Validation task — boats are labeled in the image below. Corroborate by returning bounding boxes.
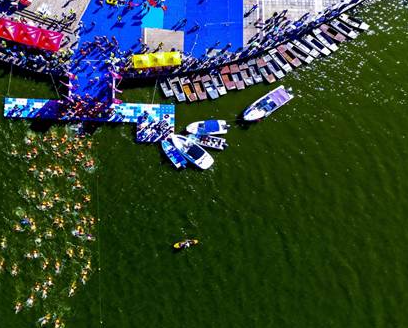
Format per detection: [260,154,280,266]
[203,74,218,98]
[192,133,228,150]
[295,35,319,58]
[222,65,236,90]
[304,32,330,55]
[330,17,357,40]
[160,79,173,97]
[257,55,275,81]
[211,70,227,95]
[287,39,312,63]
[240,63,255,86]
[169,77,185,102]
[162,140,183,168]
[231,63,245,90]
[265,53,285,78]
[270,47,292,73]
[179,76,195,101]
[321,22,345,44]
[191,77,206,100]
[249,59,264,83]
[340,11,368,31]
[278,43,301,67]
[185,121,230,135]
[242,85,292,119]
[172,135,213,169]
[173,236,199,250]
[313,27,338,51]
